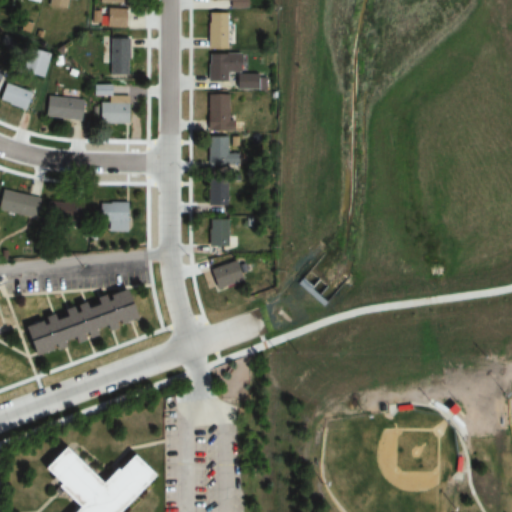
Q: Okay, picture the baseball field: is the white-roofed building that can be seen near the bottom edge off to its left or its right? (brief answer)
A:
left of it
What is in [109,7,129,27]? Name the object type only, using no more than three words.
house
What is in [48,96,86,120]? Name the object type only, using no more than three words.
house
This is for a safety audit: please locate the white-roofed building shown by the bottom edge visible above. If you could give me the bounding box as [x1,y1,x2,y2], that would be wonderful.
[48,446,158,512]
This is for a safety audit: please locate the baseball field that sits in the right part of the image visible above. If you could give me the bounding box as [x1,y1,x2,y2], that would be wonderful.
[320,411,457,512]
